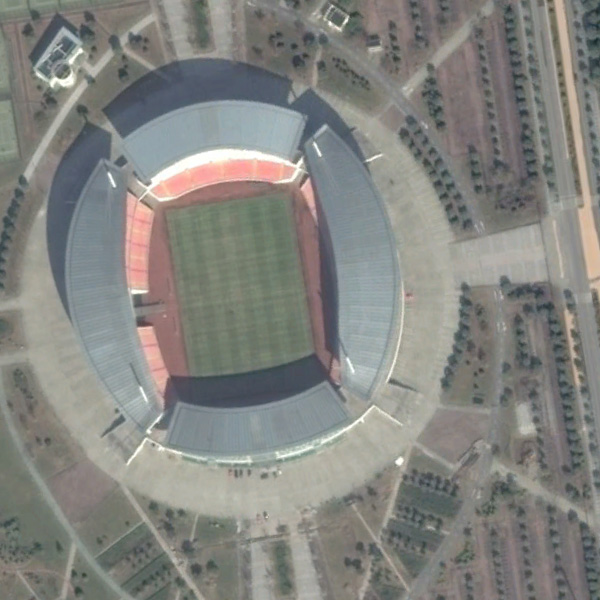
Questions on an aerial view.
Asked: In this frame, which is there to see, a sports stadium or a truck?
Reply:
sports stadium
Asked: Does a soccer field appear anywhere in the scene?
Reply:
Yes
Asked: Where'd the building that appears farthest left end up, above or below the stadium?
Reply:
above it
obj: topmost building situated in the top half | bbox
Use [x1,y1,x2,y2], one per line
[325,5,350,33]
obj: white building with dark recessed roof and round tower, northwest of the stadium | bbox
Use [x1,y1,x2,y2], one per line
[34,27,86,87]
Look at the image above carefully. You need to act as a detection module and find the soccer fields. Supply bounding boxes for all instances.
[130,165,336,407]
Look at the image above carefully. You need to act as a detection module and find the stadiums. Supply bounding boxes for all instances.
[66,100,420,466]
